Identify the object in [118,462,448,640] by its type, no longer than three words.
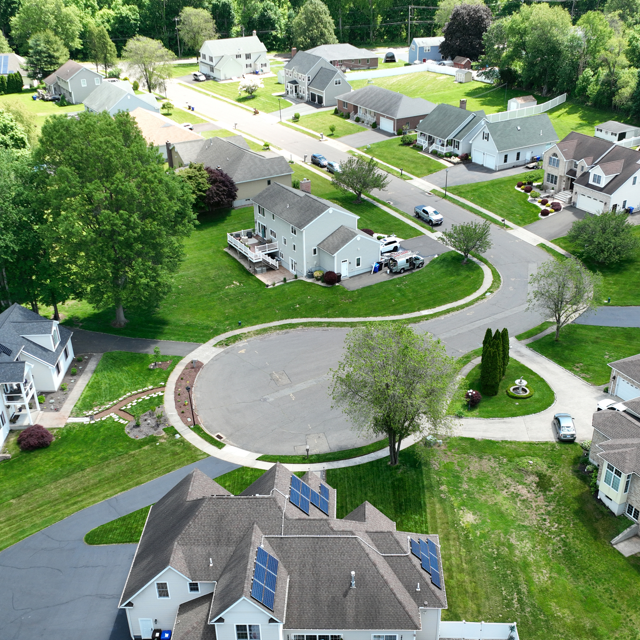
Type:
house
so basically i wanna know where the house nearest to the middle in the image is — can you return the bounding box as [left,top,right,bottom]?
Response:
[226,177,379,280]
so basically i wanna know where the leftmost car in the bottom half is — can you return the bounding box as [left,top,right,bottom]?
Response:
[552,411,578,441]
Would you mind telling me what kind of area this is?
residential area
